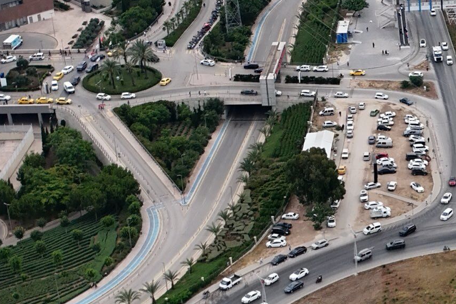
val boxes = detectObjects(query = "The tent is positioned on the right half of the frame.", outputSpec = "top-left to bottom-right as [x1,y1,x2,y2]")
[303,136,335,162]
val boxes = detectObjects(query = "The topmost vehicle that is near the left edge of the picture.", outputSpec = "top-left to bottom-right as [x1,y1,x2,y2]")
[1,34,21,47]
